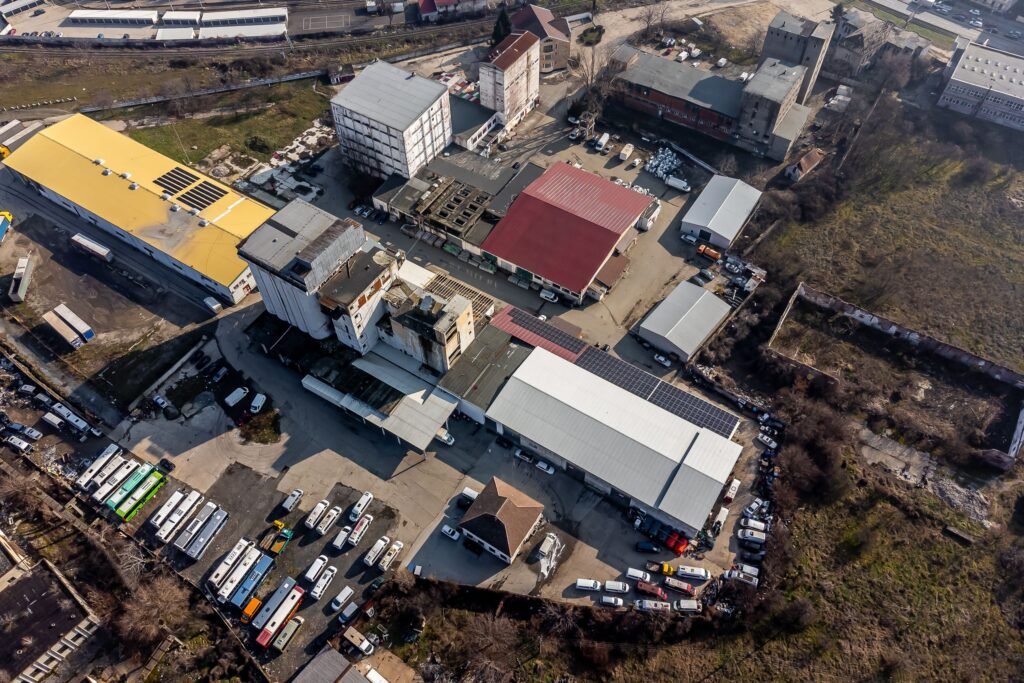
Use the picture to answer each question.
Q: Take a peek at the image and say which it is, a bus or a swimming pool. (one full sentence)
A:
The one in the frame is a bus.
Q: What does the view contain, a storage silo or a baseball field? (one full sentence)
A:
There is a storage silo in the scene.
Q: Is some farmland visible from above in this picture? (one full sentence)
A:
No, no farmland is visible.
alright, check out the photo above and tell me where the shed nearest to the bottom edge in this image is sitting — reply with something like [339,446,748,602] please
[296,645,372,683]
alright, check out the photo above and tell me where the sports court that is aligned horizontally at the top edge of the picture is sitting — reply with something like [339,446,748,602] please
[290,3,424,34]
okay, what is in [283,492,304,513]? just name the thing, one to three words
vehicle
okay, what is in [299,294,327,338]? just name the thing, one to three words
silo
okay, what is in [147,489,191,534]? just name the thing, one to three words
bus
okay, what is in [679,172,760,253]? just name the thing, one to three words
shed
